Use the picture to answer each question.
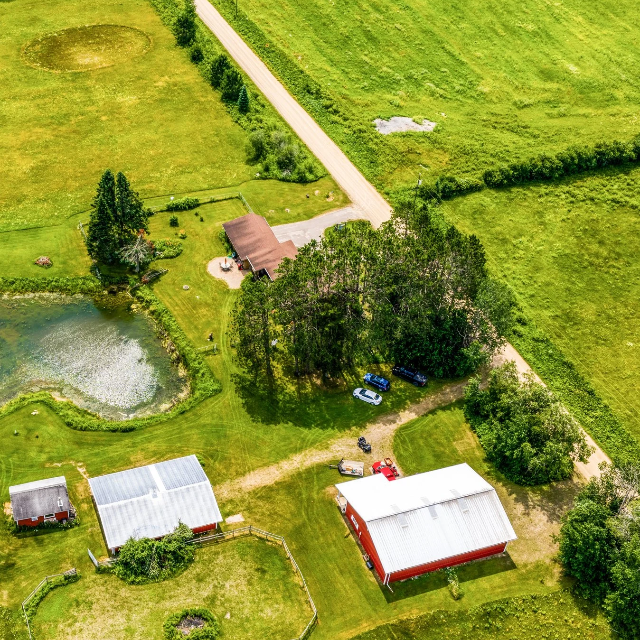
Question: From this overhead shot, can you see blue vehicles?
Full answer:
Yes, there is a blue vehicle in the image.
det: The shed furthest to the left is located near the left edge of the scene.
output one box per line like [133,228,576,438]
[8,477,72,528]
